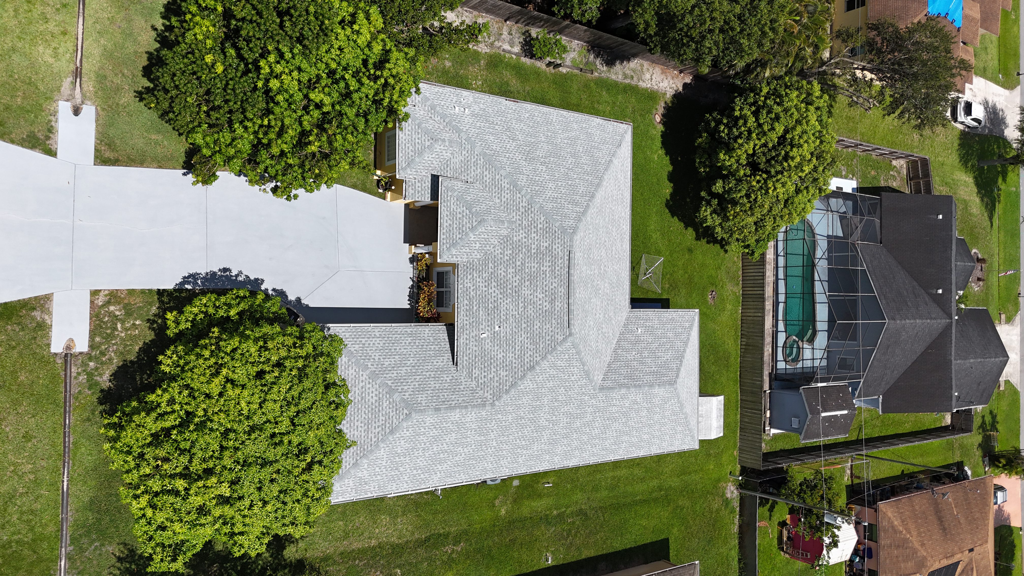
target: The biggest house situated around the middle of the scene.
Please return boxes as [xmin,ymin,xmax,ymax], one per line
[326,79,700,507]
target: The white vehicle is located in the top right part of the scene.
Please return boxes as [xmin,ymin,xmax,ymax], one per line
[955,95,990,124]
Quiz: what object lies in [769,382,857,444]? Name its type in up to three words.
shed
